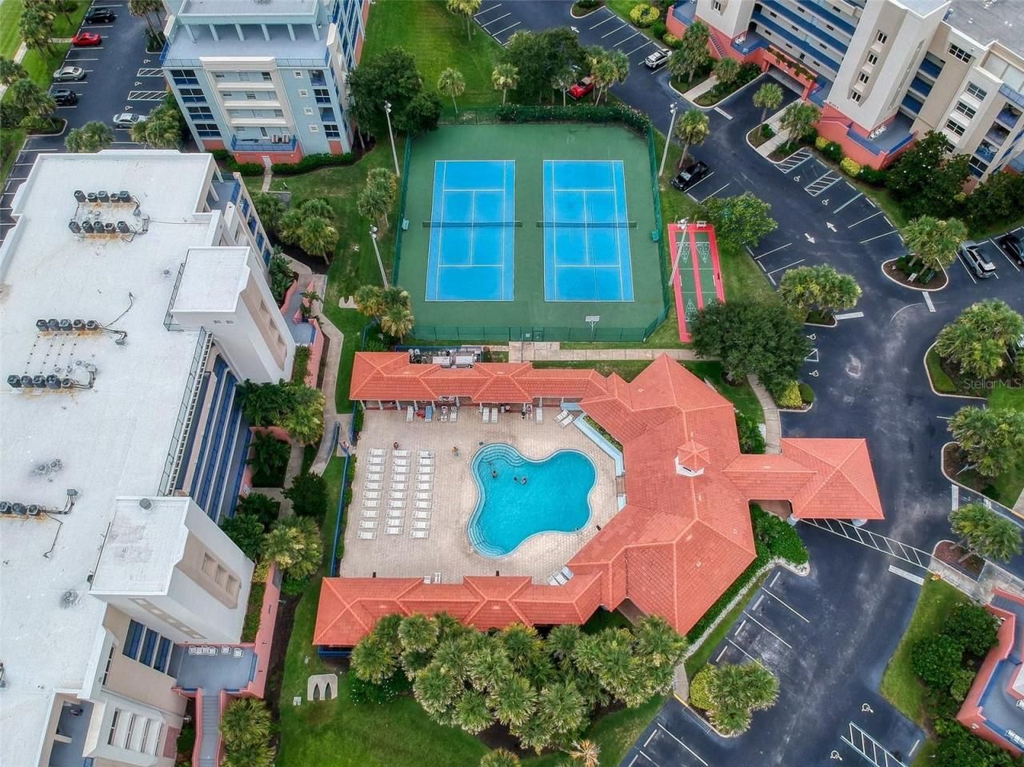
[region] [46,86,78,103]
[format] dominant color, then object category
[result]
black car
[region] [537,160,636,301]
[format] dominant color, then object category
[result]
blue tennis court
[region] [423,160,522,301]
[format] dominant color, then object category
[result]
blue tennis court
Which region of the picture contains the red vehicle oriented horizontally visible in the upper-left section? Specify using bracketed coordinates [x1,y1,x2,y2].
[69,31,99,45]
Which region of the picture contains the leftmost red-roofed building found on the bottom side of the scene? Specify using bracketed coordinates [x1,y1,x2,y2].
[312,351,885,647]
